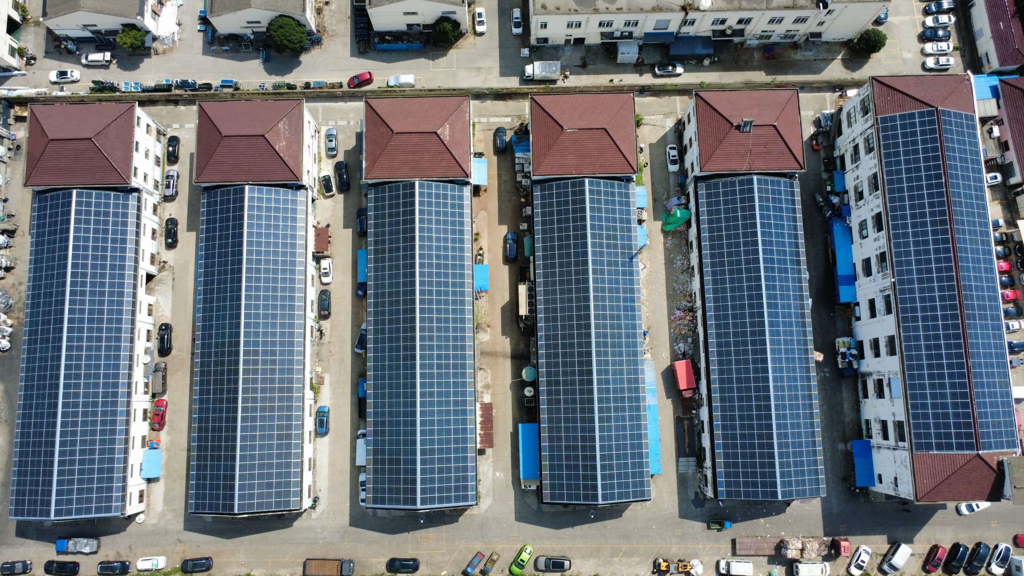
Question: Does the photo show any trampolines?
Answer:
No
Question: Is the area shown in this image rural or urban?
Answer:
urban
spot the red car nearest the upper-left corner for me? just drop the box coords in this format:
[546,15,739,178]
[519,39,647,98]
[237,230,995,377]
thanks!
[348,70,375,86]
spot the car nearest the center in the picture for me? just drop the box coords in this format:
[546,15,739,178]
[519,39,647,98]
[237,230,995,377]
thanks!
[505,231,519,262]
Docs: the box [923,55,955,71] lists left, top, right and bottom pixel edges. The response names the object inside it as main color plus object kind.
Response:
white car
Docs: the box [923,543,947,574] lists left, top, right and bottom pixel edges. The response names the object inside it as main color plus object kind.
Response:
red car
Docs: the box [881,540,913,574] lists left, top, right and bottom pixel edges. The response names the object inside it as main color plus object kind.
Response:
white van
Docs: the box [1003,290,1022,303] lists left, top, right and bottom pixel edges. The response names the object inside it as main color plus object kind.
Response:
red vehicle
